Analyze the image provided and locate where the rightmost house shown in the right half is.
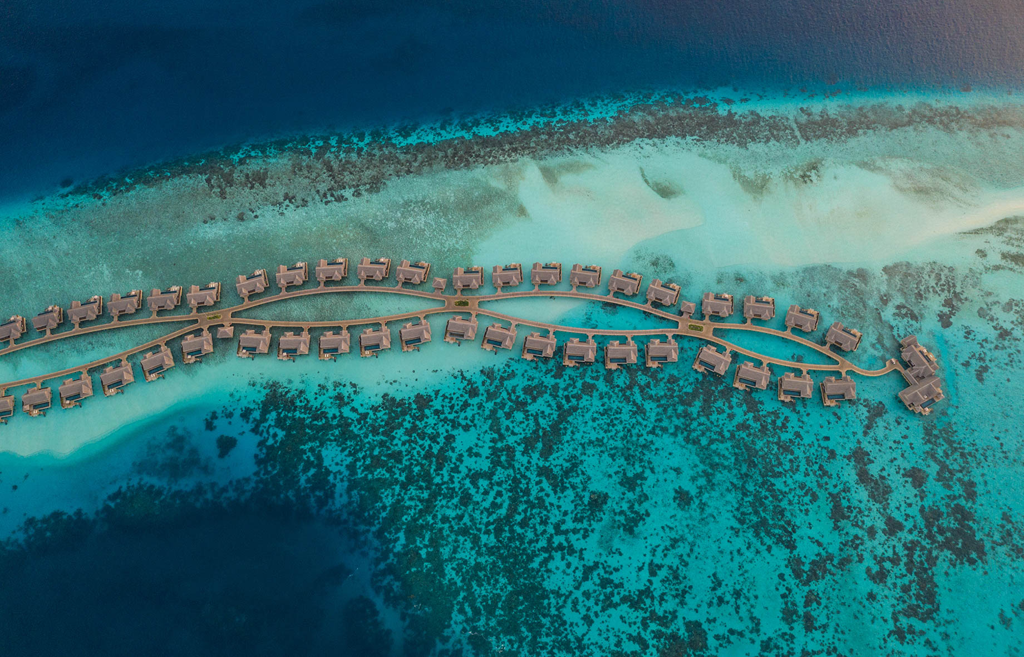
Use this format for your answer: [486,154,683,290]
[889,335,949,419]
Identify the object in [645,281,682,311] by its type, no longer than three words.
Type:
house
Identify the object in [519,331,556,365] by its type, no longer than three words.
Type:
house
